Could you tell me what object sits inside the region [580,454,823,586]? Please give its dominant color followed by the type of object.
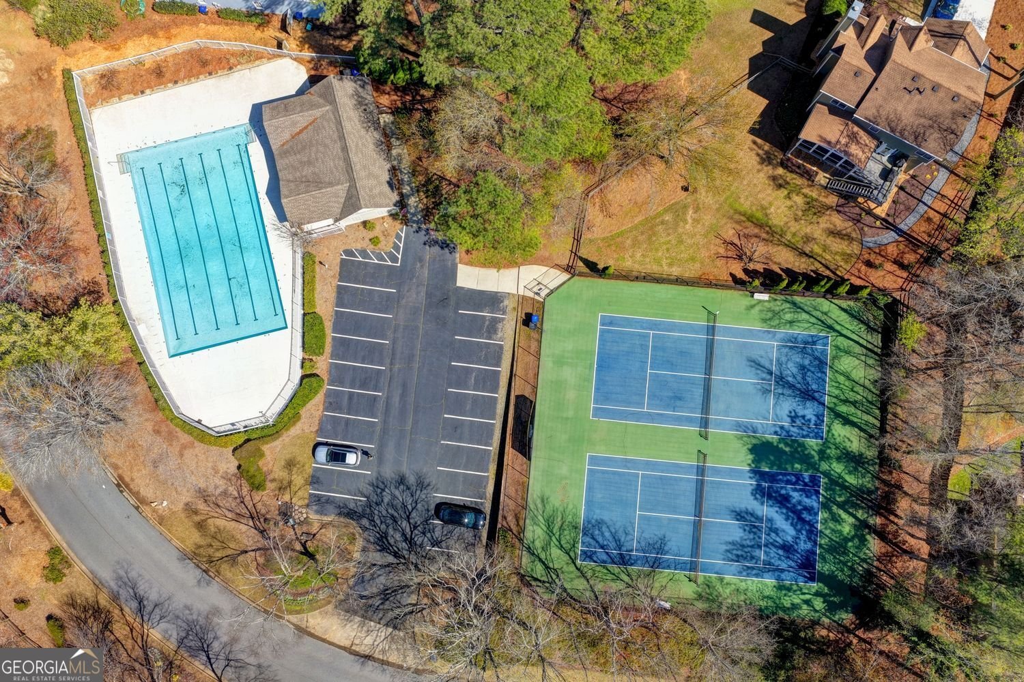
blue tennis court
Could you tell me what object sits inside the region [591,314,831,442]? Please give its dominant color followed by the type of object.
blue tennis court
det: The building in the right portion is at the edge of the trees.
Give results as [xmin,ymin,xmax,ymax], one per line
[783,0,991,210]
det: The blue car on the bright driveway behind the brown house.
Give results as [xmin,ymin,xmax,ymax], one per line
[932,0,960,20]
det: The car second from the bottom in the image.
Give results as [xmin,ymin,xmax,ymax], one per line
[314,445,360,468]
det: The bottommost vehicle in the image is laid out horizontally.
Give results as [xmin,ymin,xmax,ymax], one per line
[437,505,485,531]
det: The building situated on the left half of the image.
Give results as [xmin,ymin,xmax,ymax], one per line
[262,75,400,229]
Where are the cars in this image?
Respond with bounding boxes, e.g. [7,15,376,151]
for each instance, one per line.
[314,445,360,468]
[437,505,485,531]
[932,0,960,20]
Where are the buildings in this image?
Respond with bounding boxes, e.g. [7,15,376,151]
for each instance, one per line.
[262,75,400,229]
[783,0,991,210]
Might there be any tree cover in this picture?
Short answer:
Yes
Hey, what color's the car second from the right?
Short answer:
black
